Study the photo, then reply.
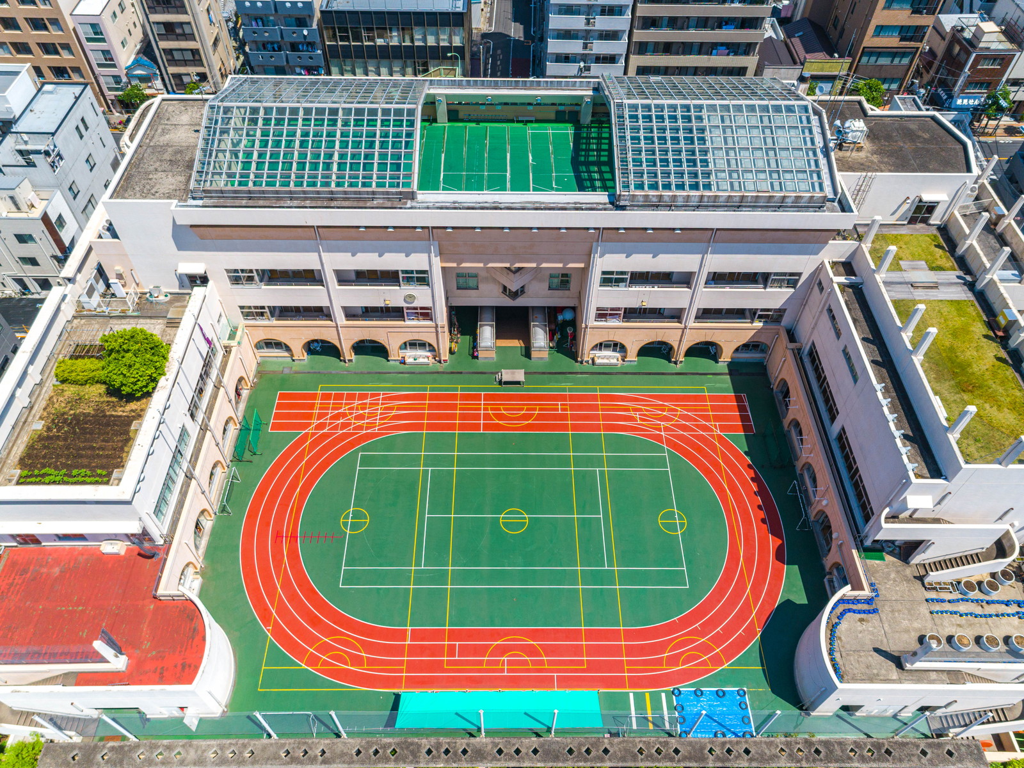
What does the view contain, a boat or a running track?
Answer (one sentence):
Visible in the photo is a running track.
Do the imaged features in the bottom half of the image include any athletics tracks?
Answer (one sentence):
Yes, you'll find an athletics track in the bottom half of the image.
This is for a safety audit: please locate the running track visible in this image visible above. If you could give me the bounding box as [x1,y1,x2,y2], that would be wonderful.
[245,392,781,689]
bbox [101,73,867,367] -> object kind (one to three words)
building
